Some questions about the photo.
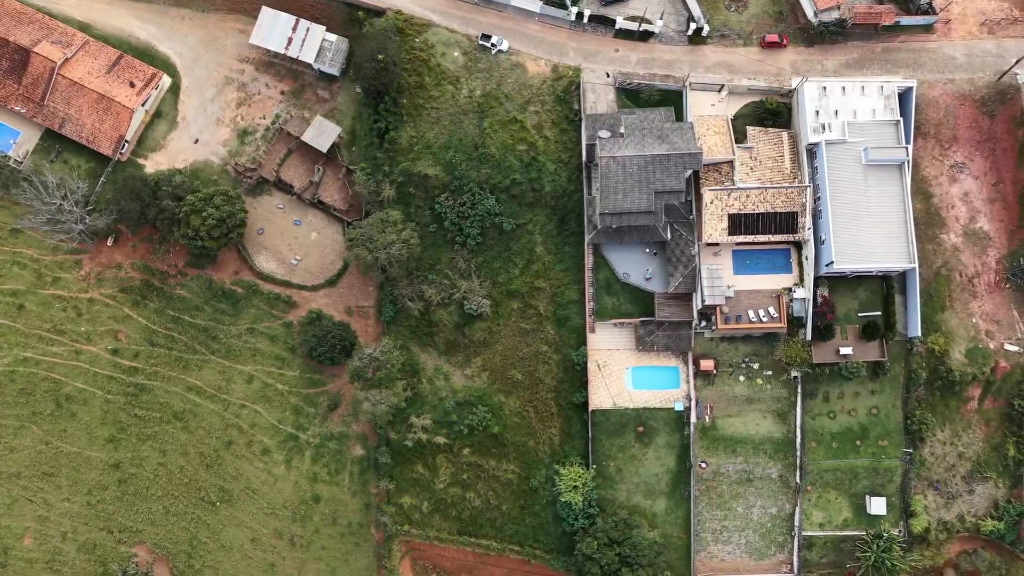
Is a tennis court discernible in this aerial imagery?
No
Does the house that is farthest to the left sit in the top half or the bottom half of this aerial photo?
top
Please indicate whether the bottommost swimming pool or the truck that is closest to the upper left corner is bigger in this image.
the swimming pool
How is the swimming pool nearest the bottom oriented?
horizontally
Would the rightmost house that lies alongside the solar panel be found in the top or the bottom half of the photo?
top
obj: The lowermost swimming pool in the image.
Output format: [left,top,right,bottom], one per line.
[626,364,682,391]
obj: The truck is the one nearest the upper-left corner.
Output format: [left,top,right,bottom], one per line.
[476,30,509,54]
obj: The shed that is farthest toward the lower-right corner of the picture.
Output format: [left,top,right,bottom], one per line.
[860,493,887,515]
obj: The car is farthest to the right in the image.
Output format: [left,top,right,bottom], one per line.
[762,33,790,48]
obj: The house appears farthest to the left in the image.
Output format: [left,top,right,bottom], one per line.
[0,0,172,159]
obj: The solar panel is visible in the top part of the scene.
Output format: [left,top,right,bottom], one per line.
[728,211,799,236]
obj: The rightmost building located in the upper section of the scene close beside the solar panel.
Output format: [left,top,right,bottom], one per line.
[792,78,916,279]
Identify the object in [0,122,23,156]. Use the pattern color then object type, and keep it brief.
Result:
blue swimming pool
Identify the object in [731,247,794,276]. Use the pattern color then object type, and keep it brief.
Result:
blue swimming pool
